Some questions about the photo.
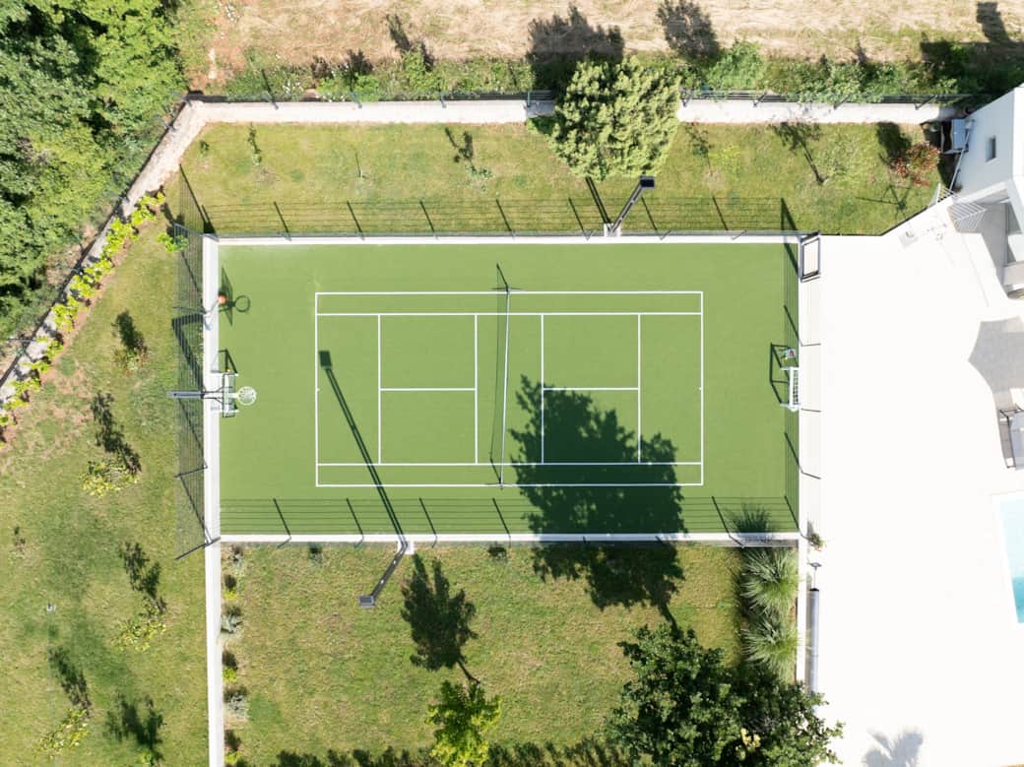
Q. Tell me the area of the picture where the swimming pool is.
bottom right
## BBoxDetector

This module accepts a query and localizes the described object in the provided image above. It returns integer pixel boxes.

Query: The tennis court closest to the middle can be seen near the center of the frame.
[217,235,801,544]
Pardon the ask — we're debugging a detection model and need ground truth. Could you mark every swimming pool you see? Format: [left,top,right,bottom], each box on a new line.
[987,485,1024,634]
